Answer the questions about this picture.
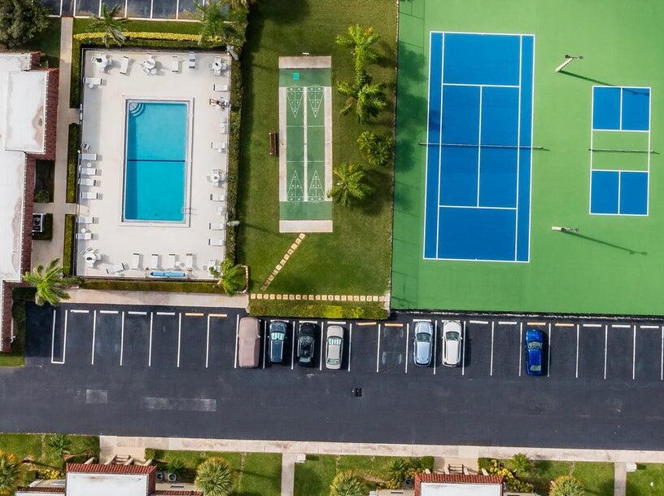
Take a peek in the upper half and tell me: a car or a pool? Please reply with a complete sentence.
What appears in the upper half is a pool.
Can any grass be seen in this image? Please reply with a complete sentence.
Yes, the picture does contain grass.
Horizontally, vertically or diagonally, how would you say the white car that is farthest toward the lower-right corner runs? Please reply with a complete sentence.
The white car that is farthest toward the lower-right corner is oriented vertically.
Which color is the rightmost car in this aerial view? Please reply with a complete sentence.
The color of the rightmost car is blue.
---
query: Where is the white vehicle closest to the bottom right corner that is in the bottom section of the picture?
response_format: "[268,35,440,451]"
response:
[442,320,464,367]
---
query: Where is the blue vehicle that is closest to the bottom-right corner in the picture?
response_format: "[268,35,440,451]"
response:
[524,329,545,376]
